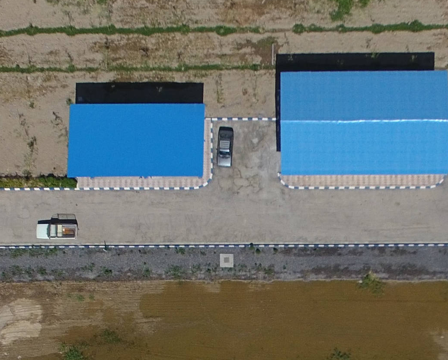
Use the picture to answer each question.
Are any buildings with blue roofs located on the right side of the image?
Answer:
Yes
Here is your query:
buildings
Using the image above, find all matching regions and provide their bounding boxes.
[281,70,448,176]
[67,104,207,179]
